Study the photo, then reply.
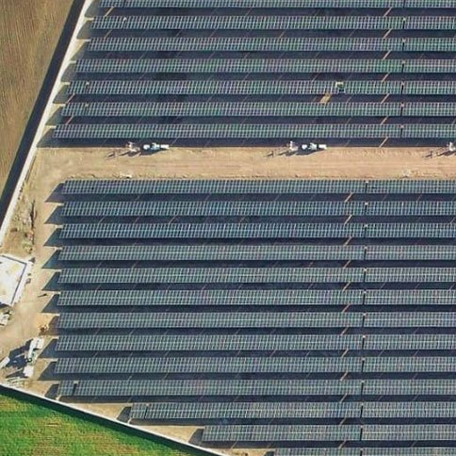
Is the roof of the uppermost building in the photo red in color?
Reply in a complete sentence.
No, from above the roof of the uppermost building looks white.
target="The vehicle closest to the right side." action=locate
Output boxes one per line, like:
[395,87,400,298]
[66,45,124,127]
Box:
[24,336,41,363]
